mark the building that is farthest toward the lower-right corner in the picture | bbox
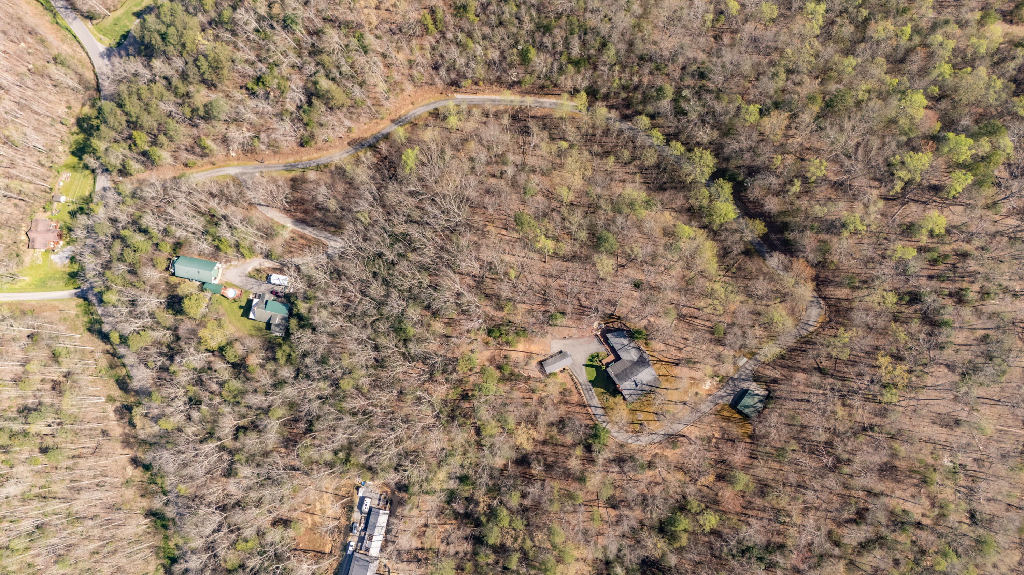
[736,390,765,420]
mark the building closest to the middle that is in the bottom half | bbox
[543,352,573,373]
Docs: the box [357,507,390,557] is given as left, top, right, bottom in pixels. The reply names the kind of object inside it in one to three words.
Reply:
house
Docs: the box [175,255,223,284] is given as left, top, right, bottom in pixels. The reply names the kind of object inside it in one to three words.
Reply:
barn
